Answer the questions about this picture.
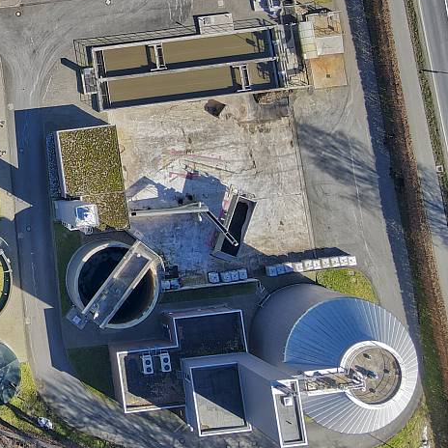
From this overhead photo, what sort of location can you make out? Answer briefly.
industrial area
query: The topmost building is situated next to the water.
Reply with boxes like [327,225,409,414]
[53,124,131,236]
